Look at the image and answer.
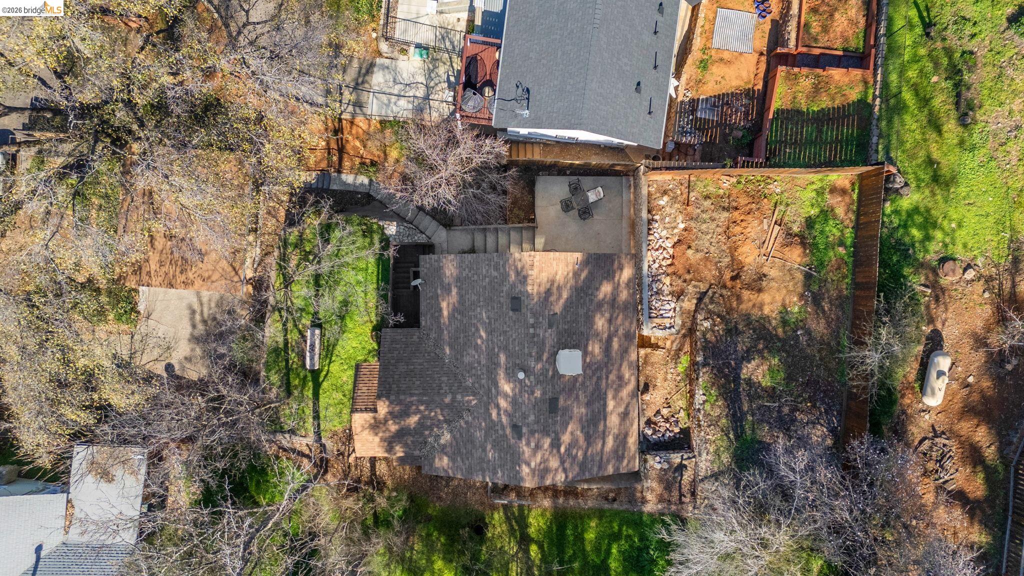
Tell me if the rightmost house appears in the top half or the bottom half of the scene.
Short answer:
top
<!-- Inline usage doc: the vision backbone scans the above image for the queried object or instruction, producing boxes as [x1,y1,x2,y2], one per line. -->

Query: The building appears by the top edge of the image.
[493,0,684,151]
